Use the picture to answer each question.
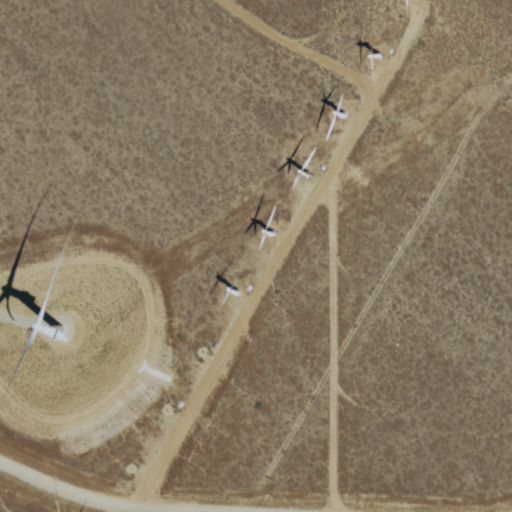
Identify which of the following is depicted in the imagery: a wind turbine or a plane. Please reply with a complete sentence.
The image shows a wind turbine.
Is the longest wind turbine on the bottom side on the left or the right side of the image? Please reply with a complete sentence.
The longest wind turbine on the bottom side is on the left side of the image.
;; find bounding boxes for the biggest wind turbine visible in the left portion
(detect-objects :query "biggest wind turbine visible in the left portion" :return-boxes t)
[4,216,78,408]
